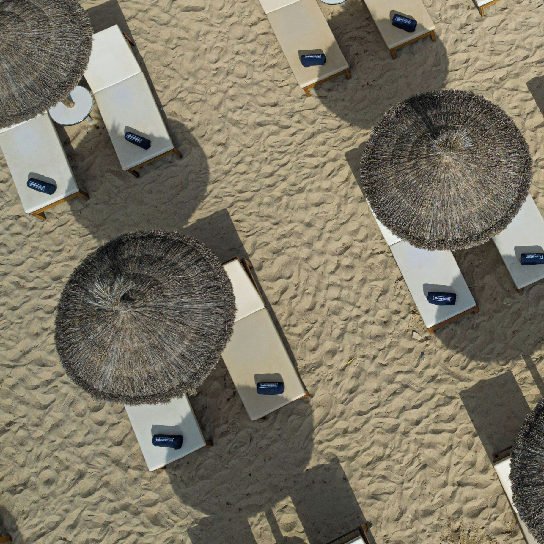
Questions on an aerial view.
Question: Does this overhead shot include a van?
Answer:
No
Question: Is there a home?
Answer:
No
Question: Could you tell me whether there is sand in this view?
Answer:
Yes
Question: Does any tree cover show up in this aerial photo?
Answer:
No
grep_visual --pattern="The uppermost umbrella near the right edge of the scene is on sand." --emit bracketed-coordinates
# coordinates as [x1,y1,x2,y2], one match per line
[356,85,536,255]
